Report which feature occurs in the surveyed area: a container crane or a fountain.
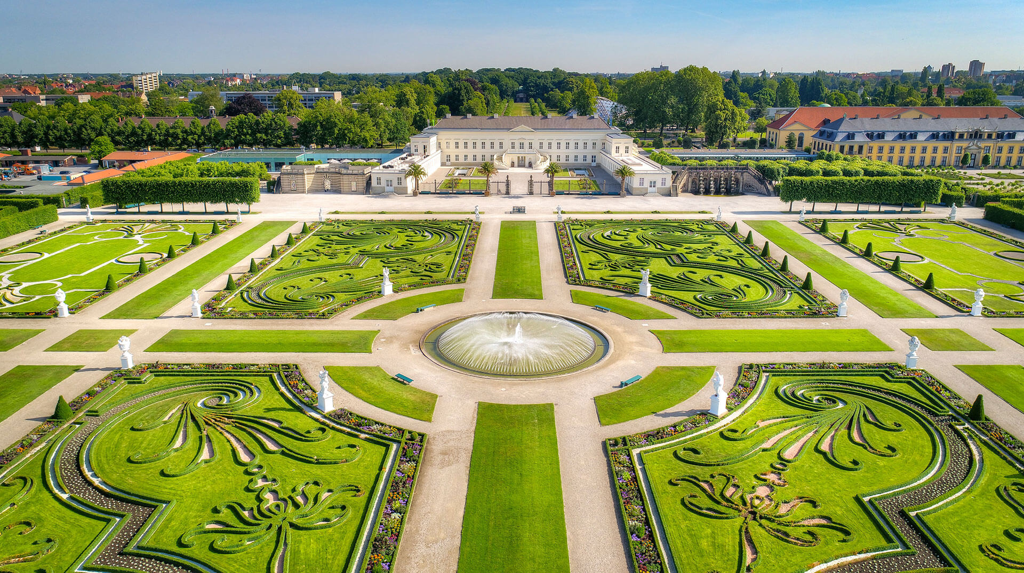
fountain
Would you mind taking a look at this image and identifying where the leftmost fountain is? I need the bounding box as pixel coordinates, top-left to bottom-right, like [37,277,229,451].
[420,308,616,380]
